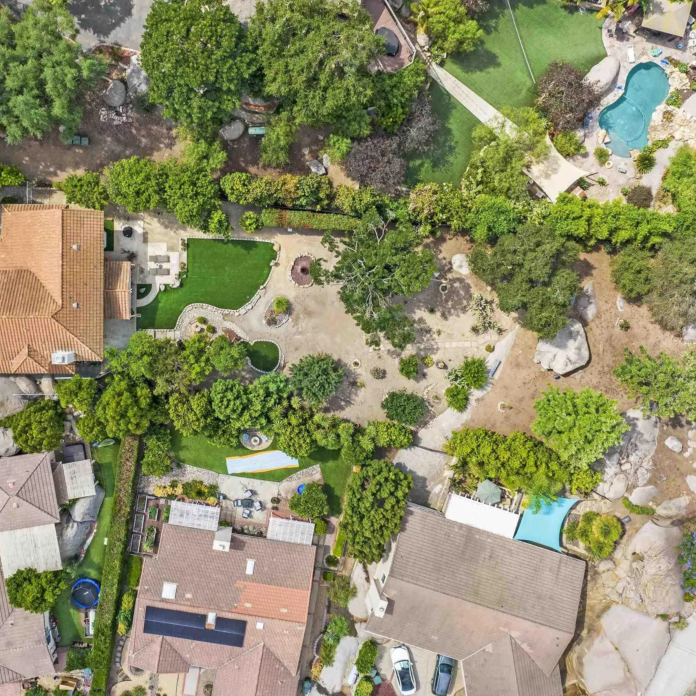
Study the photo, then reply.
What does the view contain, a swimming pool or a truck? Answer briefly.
swimming pool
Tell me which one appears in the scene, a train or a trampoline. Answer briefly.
trampoline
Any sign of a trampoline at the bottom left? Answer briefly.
Yes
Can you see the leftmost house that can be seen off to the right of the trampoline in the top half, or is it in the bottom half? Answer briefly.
bottom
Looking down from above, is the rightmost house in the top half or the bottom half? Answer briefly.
bottom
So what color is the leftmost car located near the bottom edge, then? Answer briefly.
white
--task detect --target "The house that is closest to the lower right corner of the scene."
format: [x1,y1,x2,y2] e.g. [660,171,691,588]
[364,502,585,696]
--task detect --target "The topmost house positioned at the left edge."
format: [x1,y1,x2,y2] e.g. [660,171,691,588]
[0,204,132,374]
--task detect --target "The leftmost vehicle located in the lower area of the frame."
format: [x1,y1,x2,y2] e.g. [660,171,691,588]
[390,643,419,696]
